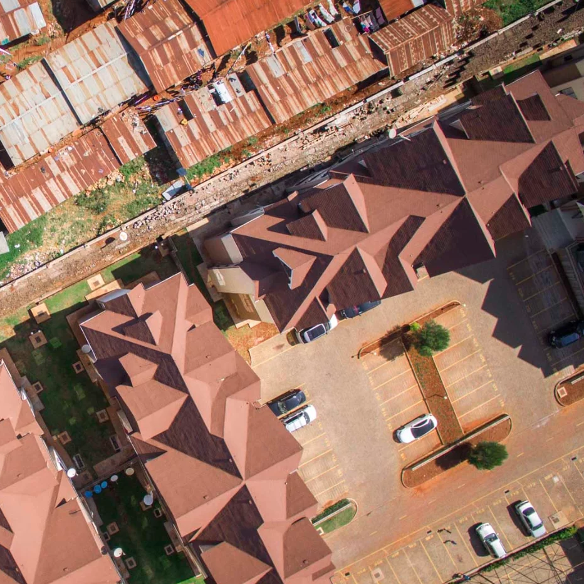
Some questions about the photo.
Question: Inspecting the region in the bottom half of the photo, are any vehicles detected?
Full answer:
Yes, there is a vehicle in the bottom half of the photo.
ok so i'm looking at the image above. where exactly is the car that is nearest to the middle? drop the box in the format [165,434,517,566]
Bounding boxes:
[288,318,335,348]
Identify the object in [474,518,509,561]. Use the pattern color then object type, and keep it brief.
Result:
white car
